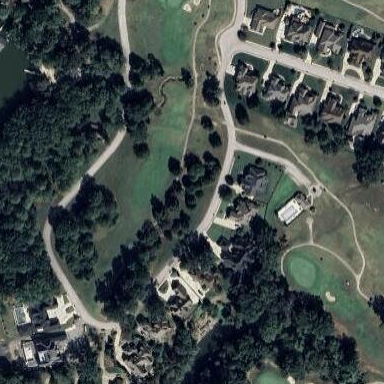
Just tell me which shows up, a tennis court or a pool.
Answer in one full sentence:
I can see a pool in this picture.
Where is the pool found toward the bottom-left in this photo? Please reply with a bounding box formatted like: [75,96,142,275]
[13,305,29,324]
